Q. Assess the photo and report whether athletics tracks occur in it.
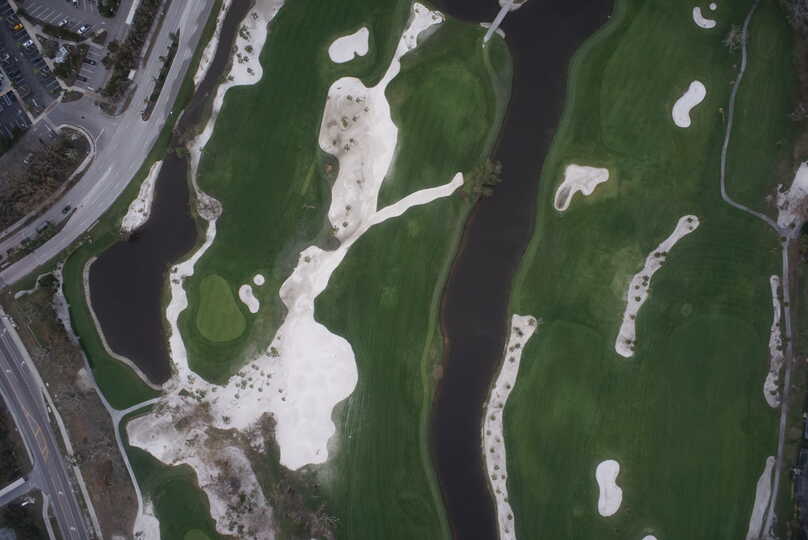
No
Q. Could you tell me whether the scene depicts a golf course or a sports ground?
golf course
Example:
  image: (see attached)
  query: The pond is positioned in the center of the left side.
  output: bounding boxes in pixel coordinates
[88,152,199,387]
